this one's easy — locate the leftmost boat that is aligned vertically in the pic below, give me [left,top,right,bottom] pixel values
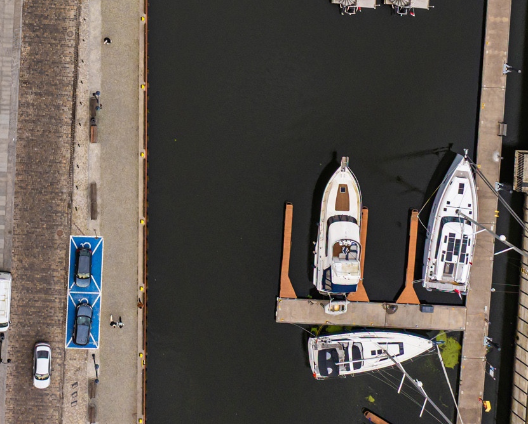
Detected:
[312,157,362,306]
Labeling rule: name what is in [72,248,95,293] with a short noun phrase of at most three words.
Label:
car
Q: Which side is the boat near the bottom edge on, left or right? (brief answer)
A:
right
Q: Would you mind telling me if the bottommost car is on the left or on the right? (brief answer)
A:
left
